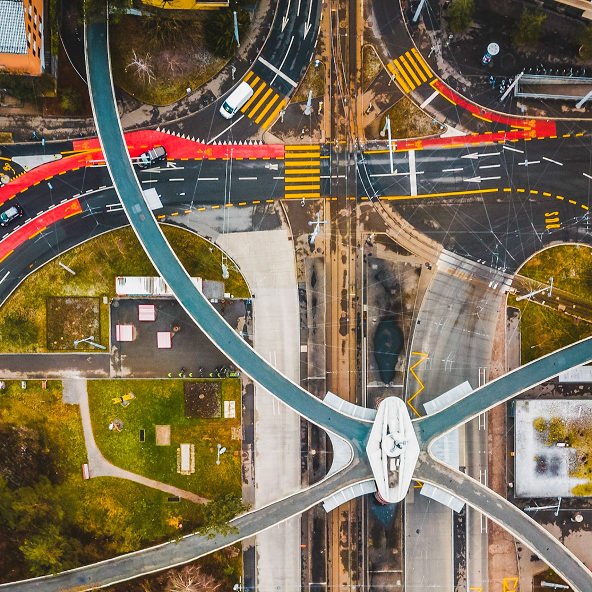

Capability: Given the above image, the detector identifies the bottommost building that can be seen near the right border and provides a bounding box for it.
[514,398,592,499]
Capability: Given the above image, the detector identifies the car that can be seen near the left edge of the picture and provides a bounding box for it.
[0,203,25,227]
